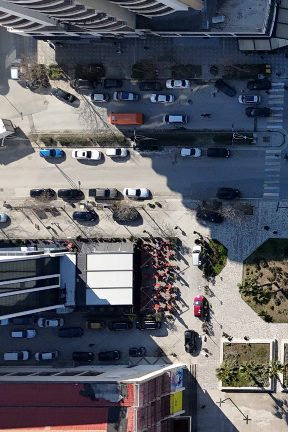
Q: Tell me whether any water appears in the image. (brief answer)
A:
No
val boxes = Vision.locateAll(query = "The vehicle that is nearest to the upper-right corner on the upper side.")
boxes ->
[247,77,272,91]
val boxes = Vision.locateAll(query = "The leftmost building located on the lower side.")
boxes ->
[0,242,84,322]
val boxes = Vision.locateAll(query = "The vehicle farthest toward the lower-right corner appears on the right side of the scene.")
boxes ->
[183,329,197,353]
